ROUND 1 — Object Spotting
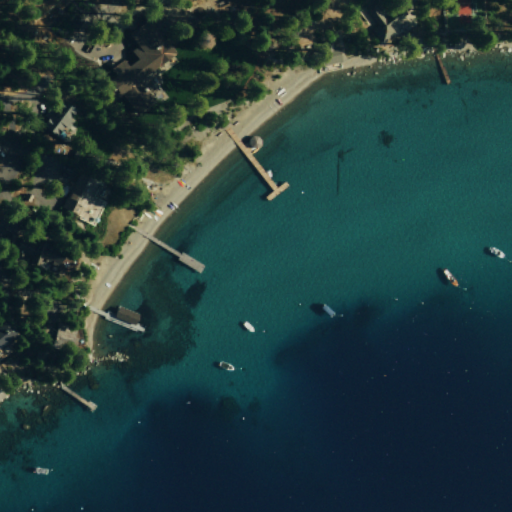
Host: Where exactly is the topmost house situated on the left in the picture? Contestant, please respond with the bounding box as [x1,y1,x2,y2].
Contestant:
[86,1,128,23]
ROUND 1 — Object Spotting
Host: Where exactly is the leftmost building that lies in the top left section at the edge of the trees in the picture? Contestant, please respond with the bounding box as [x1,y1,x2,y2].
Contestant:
[48,102,80,139]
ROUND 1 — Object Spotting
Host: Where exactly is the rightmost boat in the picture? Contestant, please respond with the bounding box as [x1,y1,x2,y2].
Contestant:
[488,246,505,258]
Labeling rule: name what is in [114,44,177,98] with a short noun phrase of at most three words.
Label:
house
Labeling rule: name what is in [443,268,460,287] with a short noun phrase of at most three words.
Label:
boat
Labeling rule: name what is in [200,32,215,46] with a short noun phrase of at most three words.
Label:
gazebo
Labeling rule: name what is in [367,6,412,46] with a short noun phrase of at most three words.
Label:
house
